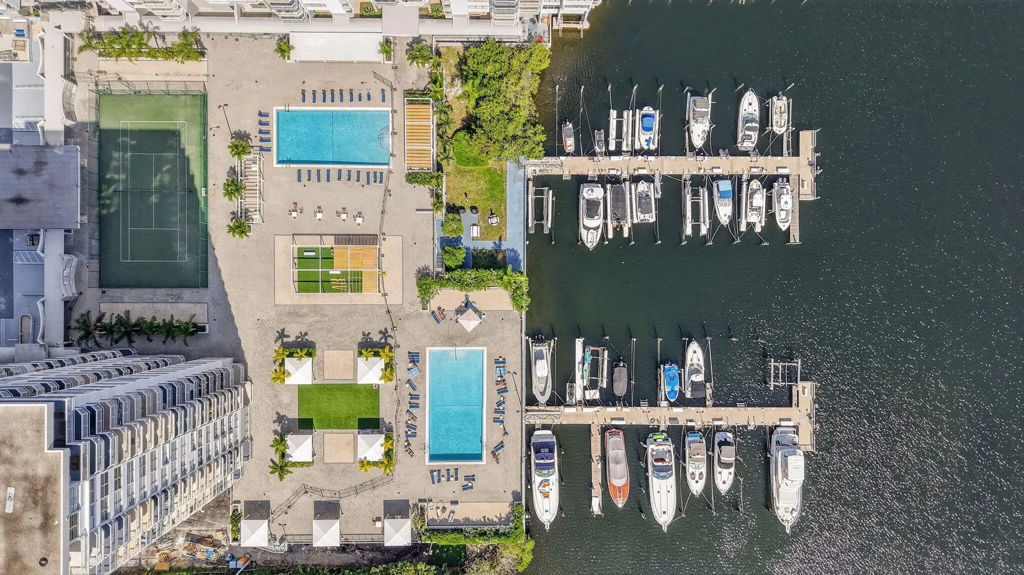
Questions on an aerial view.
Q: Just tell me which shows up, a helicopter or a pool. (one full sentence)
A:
The image shows a pool.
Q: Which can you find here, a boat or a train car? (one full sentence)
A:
This aerial view contains a boat.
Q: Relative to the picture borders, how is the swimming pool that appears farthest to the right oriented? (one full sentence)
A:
From this overhead view, the swimming pool that appears farthest to the right appears to run up and down.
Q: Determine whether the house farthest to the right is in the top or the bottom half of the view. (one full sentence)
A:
The top half of the photo is where the house farthest to the right is.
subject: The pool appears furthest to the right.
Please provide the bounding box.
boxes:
[426,345,487,465]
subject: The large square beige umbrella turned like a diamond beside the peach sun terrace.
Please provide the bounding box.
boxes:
[453,304,486,336]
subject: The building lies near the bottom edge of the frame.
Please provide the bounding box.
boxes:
[0,347,252,575]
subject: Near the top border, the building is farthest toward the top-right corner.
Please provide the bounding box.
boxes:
[552,0,596,39]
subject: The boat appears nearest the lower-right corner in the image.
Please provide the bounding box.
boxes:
[768,425,806,539]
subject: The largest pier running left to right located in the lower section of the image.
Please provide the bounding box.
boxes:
[525,382,818,451]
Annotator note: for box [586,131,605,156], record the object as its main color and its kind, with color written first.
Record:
gray boat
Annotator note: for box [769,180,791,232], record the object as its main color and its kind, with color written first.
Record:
white boat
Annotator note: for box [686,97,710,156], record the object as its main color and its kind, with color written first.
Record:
white boat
